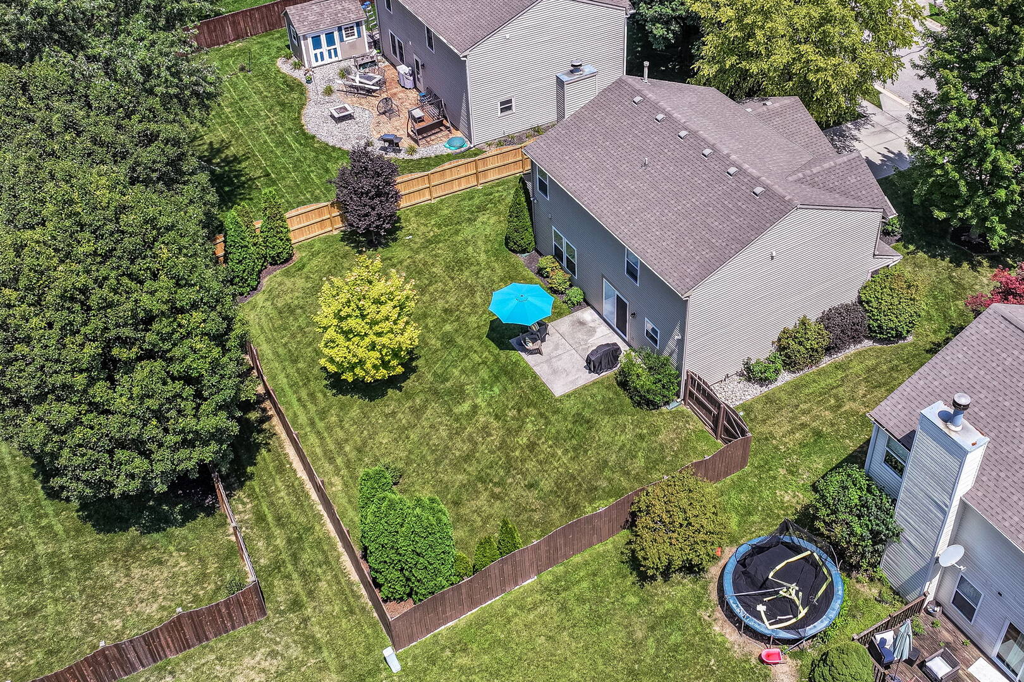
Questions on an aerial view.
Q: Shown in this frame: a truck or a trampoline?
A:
trampoline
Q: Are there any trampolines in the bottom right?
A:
Yes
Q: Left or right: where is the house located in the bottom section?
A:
right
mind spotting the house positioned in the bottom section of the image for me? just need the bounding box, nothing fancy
[858,303,1024,682]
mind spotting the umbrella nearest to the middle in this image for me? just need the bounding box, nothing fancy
[486,281,557,345]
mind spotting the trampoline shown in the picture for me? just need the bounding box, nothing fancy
[719,519,843,666]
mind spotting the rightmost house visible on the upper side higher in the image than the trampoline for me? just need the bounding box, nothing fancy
[520,61,905,401]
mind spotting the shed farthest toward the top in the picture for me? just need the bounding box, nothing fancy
[279,0,368,69]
